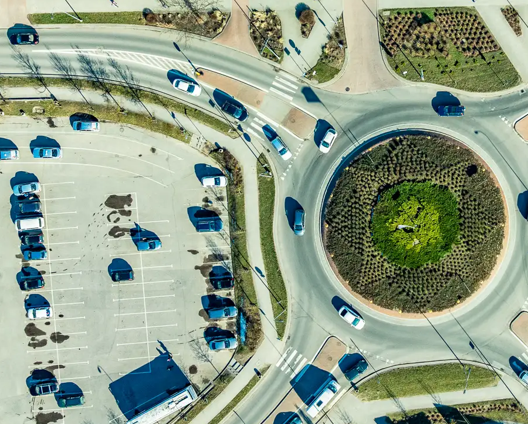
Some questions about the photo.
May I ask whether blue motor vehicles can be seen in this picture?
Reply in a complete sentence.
Yes, looking at the shot, I can spot a blue motor vehicle.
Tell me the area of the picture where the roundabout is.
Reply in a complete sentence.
The roundabout is located in the right region of the scene.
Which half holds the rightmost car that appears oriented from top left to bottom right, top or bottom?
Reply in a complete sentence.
It is in the bottom half that the rightmost car that appears oriented from top left to bottom right appears.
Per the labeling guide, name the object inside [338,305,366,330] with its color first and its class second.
white car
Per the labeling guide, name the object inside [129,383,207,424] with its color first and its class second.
white bus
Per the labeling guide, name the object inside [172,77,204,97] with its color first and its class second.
white car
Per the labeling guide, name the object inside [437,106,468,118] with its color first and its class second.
blue vehicle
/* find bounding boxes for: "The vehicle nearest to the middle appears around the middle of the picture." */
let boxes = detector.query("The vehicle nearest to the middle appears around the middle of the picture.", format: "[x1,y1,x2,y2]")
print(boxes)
[294,209,306,236]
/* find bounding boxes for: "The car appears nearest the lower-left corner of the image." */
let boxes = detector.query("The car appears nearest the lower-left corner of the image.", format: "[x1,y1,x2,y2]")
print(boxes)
[30,381,61,396]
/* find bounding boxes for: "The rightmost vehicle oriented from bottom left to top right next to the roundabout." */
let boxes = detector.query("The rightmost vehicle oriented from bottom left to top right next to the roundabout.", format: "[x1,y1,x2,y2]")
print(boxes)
[342,359,369,382]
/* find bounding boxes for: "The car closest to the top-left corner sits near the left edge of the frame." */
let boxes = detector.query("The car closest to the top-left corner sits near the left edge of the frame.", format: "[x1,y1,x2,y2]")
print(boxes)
[10,32,41,45]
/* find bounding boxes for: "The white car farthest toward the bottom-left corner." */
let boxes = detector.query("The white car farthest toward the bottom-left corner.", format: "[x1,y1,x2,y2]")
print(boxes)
[28,305,55,319]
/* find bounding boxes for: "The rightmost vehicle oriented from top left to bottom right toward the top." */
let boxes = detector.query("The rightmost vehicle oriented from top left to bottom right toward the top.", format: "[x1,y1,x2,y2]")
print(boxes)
[267,134,295,162]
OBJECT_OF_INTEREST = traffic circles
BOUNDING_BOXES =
[277,87,528,362]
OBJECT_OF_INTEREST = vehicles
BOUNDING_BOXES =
[201,175,229,188]
[320,127,338,154]
[30,381,61,396]
[73,119,102,132]
[129,383,207,424]
[220,99,251,123]
[15,217,46,231]
[342,359,369,382]
[338,305,366,330]
[33,145,63,159]
[211,275,238,287]
[208,305,239,319]
[437,106,468,118]
[13,181,44,196]
[208,336,239,350]
[267,134,295,162]
[20,232,47,247]
[294,209,306,236]
[28,305,55,319]
[136,235,162,254]
[305,380,340,418]
[172,77,204,97]
[58,392,86,407]
[10,32,41,45]
[16,200,47,215]
[0,149,22,161]
[111,269,135,282]
[195,219,224,232]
